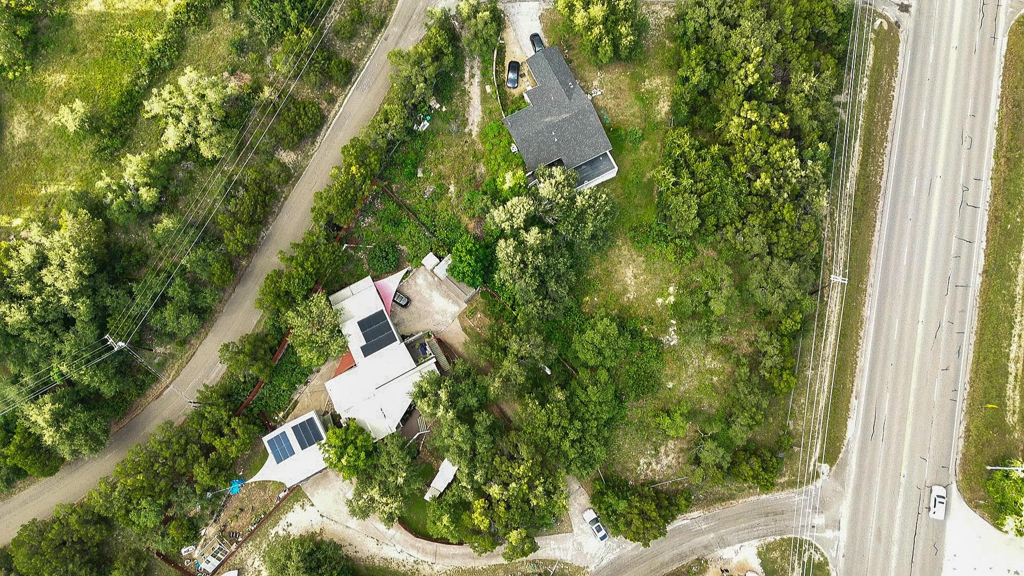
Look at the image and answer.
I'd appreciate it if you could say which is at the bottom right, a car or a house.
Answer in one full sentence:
You can see a car at the bottom right.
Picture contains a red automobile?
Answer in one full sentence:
No, I can see no red automobile in this picture.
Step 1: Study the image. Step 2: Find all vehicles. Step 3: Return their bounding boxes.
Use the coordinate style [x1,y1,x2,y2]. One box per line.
[392,289,414,311]
[927,486,949,519]
[585,508,607,542]
[530,31,548,55]
[505,60,520,89]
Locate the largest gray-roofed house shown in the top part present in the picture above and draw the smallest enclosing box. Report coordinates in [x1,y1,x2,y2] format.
[502,46,618,190]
